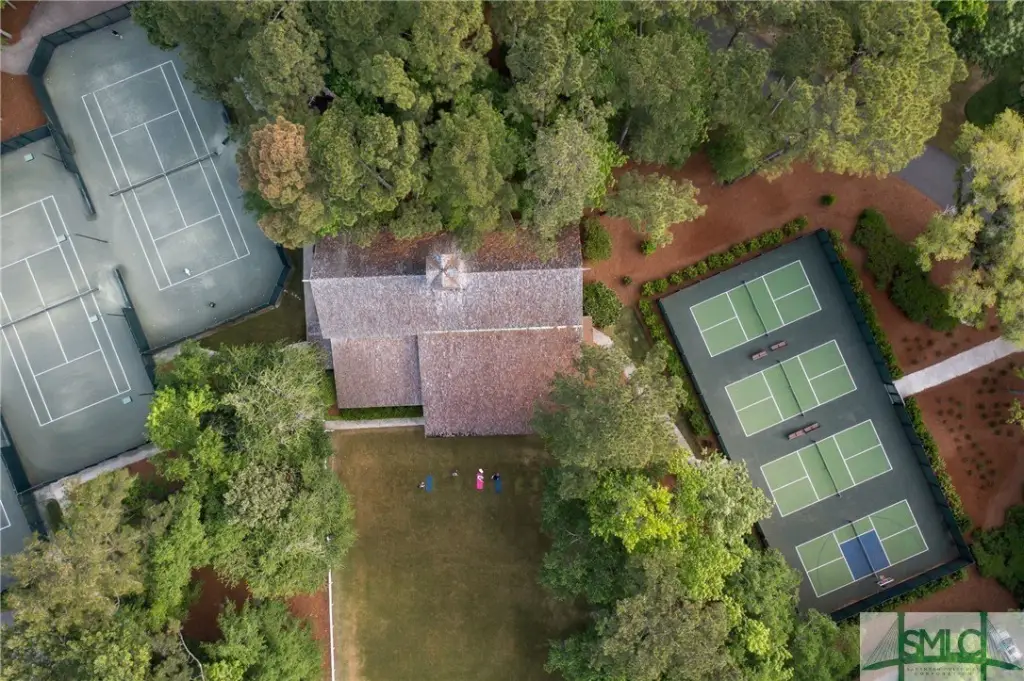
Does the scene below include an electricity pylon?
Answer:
No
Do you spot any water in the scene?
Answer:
No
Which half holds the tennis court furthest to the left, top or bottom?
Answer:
bottom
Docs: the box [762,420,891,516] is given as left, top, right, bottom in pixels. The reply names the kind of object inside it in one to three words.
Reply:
sports court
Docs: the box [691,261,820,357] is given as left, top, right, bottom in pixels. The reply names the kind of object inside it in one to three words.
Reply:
sports court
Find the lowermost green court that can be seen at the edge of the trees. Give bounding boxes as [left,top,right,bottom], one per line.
[797,500,927,596]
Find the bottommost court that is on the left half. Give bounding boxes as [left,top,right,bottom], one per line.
[0,440,49,592]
